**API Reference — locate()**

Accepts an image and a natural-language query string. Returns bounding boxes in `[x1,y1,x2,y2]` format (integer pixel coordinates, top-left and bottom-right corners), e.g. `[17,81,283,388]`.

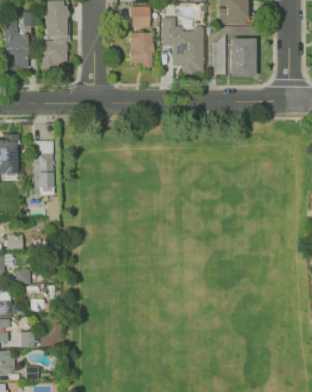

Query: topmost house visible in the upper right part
[219,0,250,26]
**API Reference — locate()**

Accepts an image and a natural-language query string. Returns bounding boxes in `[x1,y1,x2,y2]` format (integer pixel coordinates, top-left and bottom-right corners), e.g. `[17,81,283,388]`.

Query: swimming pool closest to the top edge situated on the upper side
[175,6,198,18]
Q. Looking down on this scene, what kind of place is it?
sports ground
